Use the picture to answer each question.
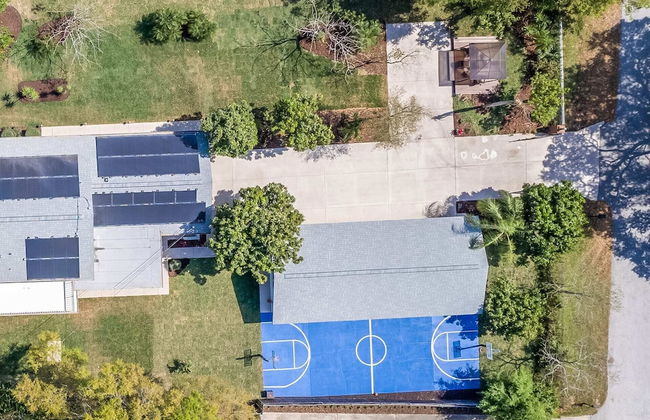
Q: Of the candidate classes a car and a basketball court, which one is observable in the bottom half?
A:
basketball court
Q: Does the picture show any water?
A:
No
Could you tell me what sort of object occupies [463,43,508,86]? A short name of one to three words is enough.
gazebo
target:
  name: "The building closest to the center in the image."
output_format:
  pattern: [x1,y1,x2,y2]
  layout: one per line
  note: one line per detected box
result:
[273,215,489,324]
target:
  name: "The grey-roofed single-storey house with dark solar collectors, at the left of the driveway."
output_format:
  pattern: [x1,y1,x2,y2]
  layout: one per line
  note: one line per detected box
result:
[0,132,214,317]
